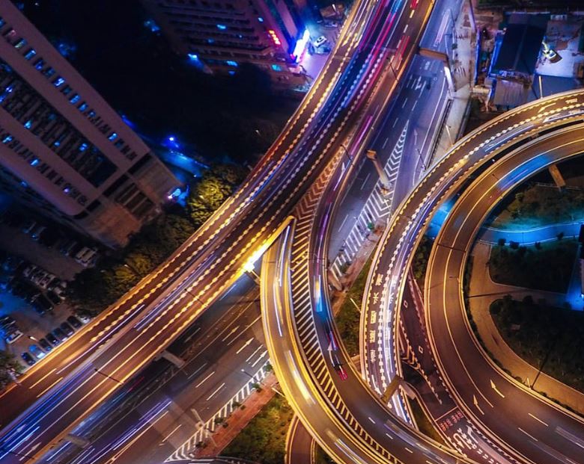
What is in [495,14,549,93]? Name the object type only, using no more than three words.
building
